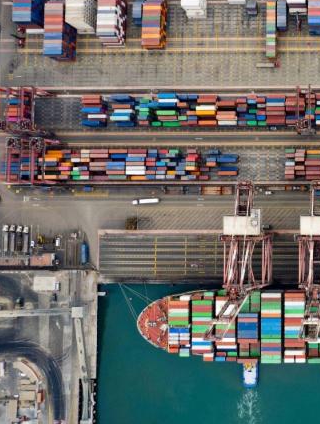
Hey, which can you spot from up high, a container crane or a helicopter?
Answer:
container crane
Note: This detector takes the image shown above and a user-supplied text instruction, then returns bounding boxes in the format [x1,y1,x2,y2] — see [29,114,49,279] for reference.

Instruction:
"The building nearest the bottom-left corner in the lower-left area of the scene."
[7,398,20,424]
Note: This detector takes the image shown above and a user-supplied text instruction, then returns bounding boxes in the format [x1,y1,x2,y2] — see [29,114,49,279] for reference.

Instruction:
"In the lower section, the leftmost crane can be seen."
[198,177,279,340]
